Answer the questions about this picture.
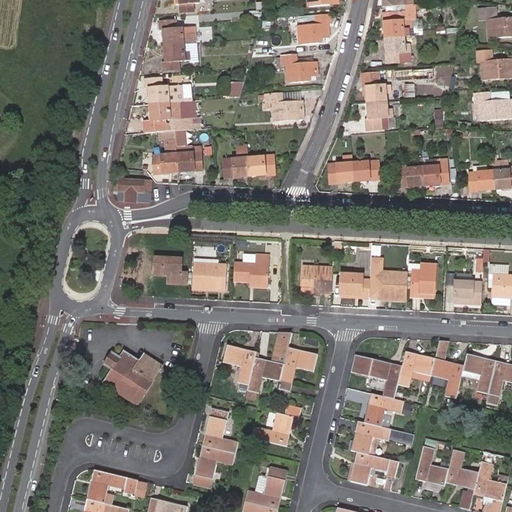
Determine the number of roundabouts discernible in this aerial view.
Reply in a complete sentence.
My tally gives 1 roundabout in this photo.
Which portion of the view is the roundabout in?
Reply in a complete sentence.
The roundabout sits in the left section of the image.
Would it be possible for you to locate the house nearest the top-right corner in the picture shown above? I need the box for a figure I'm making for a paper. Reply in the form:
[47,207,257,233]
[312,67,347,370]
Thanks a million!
[478,7,512,38]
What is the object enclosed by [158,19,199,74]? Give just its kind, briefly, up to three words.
house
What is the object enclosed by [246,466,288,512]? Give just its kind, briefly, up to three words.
house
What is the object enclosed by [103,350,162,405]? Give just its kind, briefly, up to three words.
building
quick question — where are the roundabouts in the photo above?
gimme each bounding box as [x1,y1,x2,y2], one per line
[50,199,127,322]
